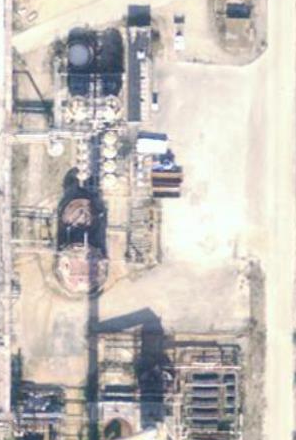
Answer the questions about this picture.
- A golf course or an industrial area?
industrial area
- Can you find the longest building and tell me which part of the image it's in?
top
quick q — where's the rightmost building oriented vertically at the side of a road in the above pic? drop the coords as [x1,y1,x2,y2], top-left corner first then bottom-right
[128,24,149,121]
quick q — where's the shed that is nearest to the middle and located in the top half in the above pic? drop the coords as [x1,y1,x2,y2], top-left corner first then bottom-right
[136,137,167,153]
